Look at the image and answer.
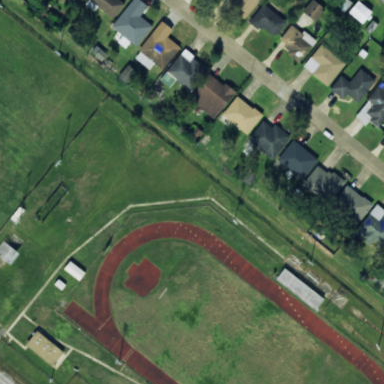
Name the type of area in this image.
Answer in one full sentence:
It's a sports ground.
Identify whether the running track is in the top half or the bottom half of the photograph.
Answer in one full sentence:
The bottom half of the photo is where the running track is.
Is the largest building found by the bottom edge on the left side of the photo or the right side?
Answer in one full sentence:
The largest building found by the bottom edge sits on the left side.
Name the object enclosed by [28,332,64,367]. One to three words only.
building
